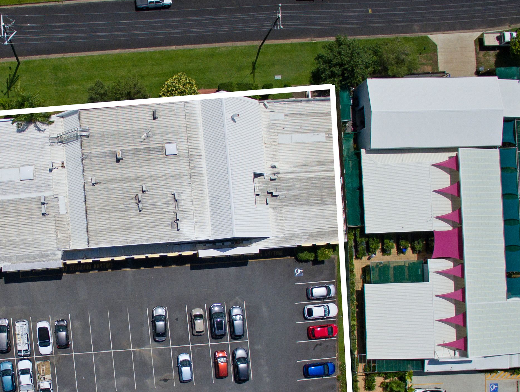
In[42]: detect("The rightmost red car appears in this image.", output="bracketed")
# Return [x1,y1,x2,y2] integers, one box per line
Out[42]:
[305,322,338,340]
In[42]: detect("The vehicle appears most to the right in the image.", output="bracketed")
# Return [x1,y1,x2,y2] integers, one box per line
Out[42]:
[481,28,519,47]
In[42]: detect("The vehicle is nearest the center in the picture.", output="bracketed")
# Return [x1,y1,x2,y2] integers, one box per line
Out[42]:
[305,283,336,299]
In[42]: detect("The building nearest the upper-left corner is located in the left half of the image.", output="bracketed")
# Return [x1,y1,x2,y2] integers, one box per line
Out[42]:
[0,90,348,271]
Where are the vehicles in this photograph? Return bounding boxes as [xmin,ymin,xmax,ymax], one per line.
[209,304,227,340]
[17,358,35,392]
[35,360,54,392]
[302,302,339,320]
[305,283,336,299]
[232,346,251,384]
[53,319,70,349]
[15,319,32,357]
[228,306,246,340]
[35,320,53,356]
[176,352,193,384]
[135,0,173,9]
[305,322,338,340]
[190,308,206,336]
[0,360,17,392]
[481,28,519,47]
[214,349,230,378]
[301,361,336,378]
[151,306,169,342]
[0,317,13,354]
